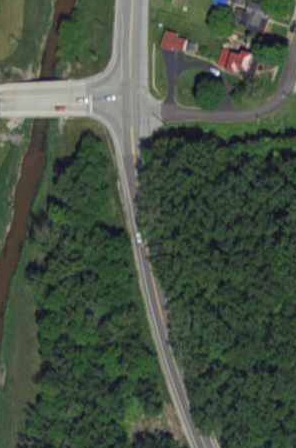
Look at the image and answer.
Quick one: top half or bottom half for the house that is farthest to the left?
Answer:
top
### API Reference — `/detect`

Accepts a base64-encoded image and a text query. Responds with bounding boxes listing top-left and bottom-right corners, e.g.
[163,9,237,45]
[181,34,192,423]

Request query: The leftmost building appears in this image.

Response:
[159,28,190,52]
